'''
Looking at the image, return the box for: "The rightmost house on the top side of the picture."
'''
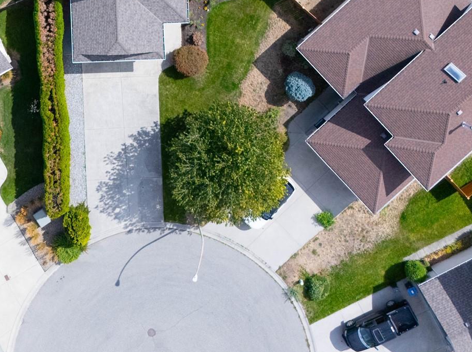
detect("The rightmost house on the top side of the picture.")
[294,0,472,215]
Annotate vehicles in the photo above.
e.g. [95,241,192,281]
[243,177,298,235]
[340,298,421,352]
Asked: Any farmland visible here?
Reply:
No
